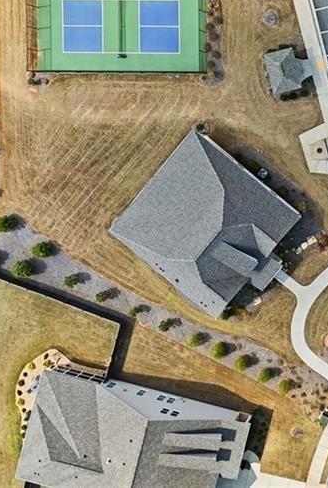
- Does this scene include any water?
No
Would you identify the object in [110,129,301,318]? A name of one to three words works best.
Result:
building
